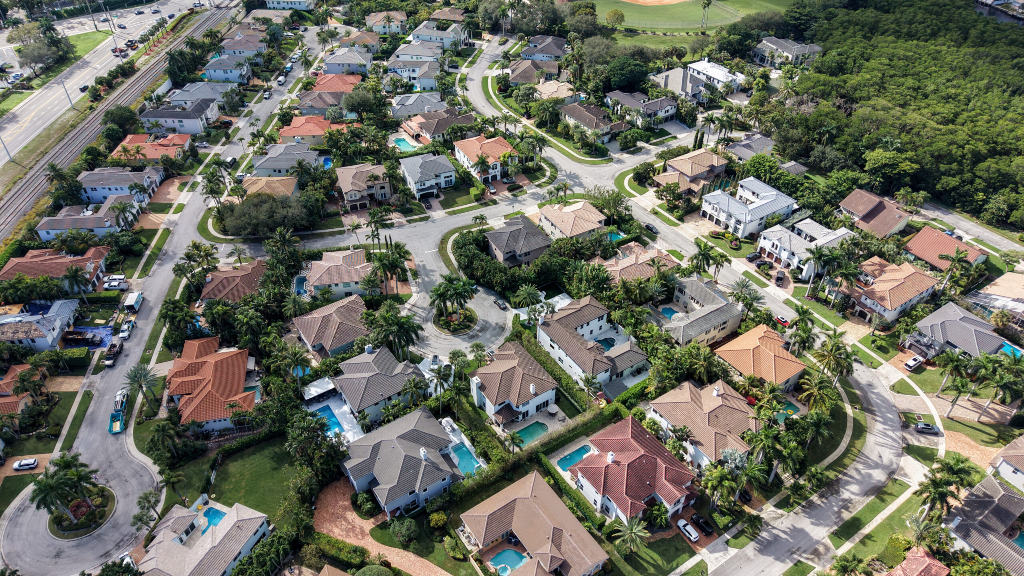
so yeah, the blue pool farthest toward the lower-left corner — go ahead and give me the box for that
[199,504,227,536]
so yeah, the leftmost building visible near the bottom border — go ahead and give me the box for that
[136,501,268,576]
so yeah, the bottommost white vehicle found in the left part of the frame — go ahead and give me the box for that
[12,456,39,471]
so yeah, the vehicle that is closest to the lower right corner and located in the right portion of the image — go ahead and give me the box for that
[914,421,940,435]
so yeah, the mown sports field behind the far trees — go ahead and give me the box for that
[565,0,784,67]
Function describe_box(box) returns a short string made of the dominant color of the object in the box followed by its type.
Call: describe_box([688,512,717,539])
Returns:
black truck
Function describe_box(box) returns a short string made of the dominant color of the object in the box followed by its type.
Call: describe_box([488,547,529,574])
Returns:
blue swimming pool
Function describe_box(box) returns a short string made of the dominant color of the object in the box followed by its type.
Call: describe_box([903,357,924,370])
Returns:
white vehicle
